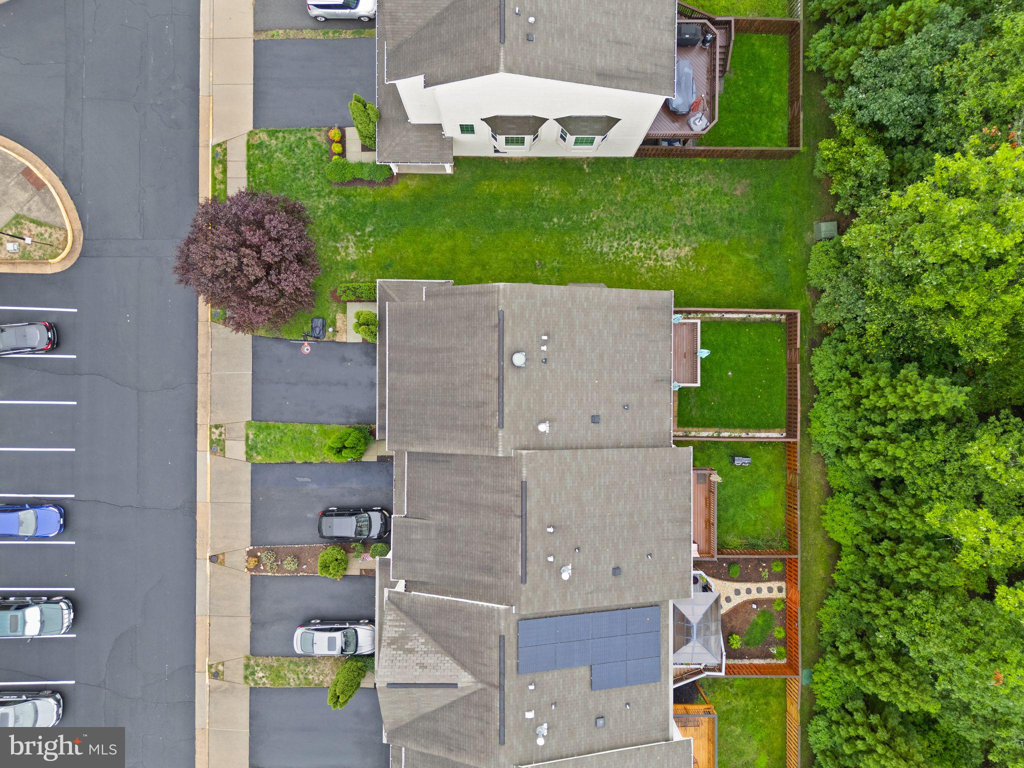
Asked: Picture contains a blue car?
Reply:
Yes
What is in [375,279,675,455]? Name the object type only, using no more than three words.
house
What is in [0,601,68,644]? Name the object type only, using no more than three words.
car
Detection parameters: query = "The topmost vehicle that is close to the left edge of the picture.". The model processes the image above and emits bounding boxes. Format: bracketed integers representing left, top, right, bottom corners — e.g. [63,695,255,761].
[0,321,57,355]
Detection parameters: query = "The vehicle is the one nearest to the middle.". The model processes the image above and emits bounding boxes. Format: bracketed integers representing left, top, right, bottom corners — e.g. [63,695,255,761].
[311,507,390,547]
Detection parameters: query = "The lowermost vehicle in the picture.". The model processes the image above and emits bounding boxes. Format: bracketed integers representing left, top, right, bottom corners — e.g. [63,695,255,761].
[0,692,61,735]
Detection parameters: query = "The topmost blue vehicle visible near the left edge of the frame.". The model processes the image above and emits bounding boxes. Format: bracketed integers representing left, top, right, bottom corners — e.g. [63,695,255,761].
[0,505,60,543]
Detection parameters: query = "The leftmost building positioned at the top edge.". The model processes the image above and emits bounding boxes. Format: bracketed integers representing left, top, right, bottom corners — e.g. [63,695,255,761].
[375,0,677,174]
